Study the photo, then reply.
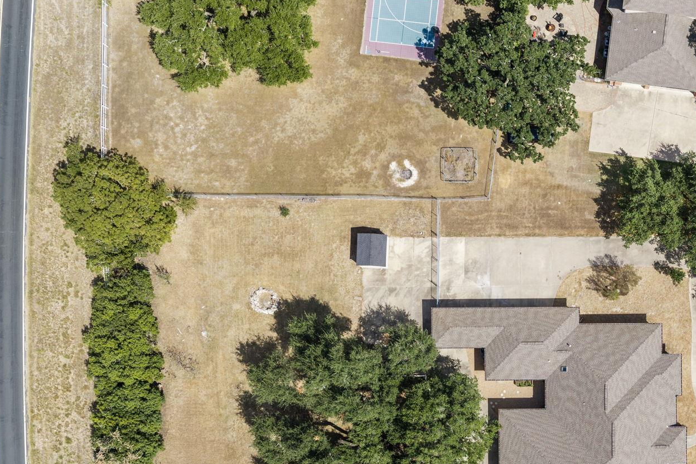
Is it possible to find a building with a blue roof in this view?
No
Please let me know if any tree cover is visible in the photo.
Yes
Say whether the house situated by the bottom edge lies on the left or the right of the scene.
right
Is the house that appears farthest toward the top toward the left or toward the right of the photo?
right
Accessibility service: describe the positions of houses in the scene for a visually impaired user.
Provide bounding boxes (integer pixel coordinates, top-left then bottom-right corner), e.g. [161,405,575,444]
[431,307,687,464]
[603,0,696,96]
